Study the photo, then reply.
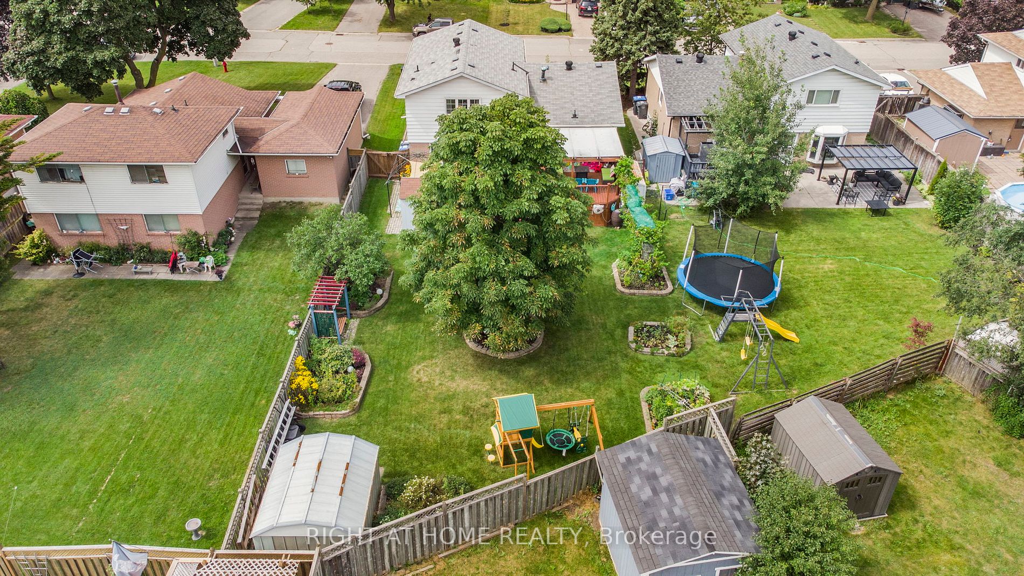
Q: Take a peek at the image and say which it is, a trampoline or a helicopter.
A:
trampoline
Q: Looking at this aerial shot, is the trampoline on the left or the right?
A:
right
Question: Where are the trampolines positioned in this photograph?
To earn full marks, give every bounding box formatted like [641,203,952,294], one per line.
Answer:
[677,217,784,320]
